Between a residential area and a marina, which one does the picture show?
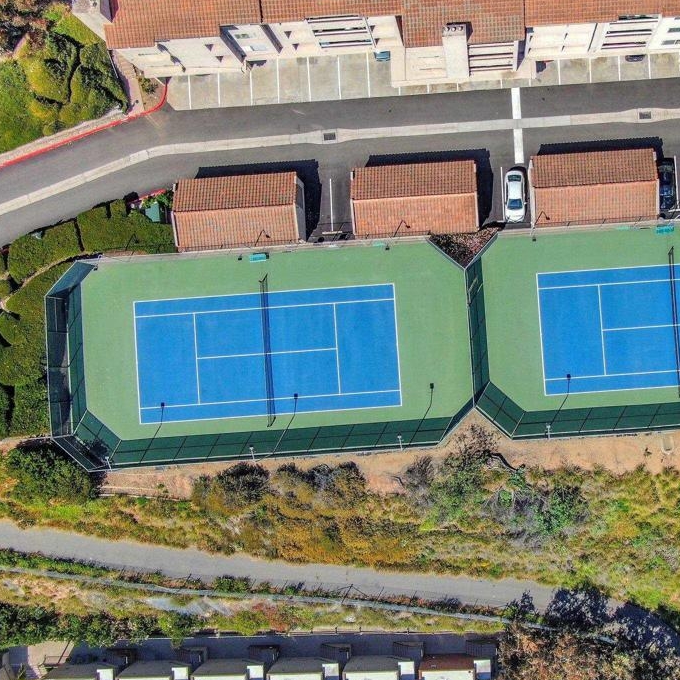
residential area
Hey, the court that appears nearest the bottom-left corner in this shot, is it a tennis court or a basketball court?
tennis court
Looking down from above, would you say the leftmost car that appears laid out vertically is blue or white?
white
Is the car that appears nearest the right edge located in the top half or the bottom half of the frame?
top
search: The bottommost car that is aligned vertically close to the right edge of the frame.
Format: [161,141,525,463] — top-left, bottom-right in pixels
[658,159,680,211]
